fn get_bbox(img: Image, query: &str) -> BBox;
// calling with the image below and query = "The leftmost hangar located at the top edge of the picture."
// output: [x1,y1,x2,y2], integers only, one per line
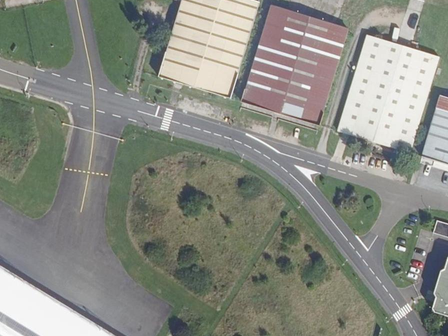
[158,0,260,97]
